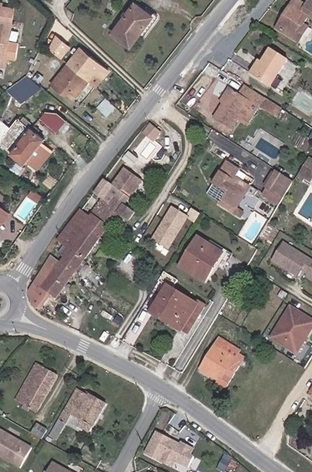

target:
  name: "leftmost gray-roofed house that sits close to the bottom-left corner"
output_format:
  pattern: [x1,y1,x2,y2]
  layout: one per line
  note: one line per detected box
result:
[0,426,32,468]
